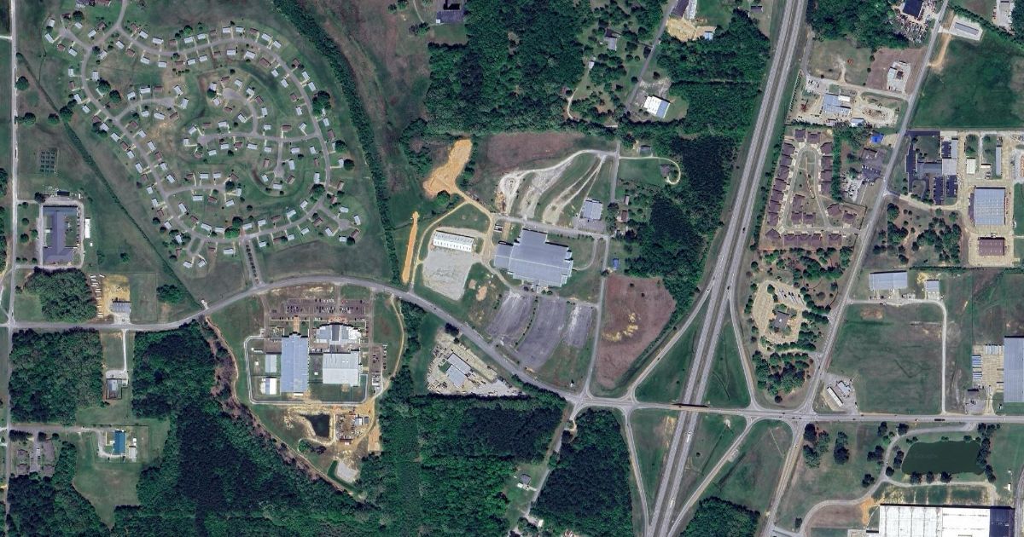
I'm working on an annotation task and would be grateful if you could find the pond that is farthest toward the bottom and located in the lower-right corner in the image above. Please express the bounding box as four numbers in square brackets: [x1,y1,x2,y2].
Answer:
[902,441,986,475]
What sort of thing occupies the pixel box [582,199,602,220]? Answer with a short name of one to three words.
building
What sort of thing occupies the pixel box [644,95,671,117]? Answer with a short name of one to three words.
building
